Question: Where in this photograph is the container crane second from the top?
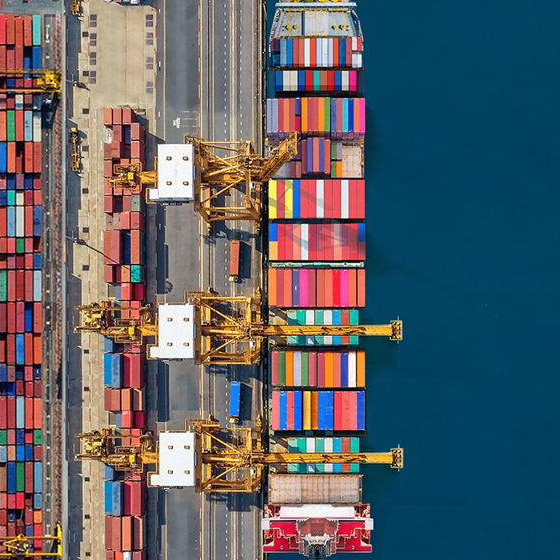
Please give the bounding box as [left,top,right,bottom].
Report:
[105,129,298,223]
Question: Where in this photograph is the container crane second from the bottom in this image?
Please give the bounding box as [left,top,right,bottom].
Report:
[73,403,403,495]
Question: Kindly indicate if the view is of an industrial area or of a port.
port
